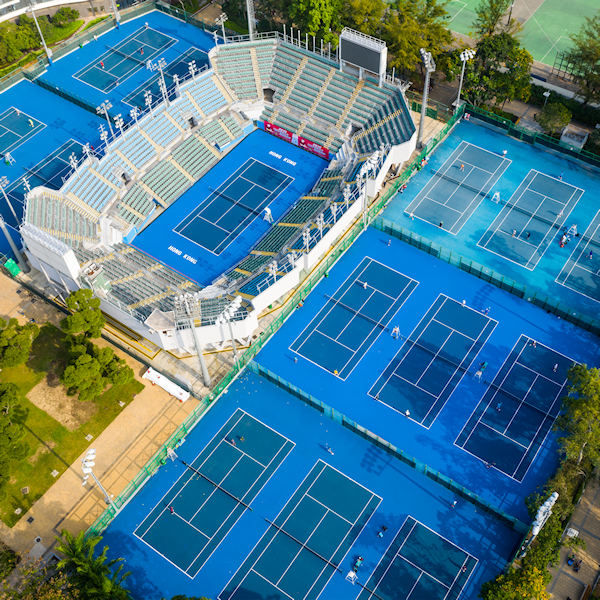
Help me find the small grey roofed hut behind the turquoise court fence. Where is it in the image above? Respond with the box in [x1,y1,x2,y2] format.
[561,121,593,145]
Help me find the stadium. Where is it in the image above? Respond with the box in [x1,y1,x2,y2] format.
[24,29,421,357]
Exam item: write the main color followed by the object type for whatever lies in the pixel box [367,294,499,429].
blue tennis court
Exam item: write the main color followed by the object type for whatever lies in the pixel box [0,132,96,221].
blue tennis court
